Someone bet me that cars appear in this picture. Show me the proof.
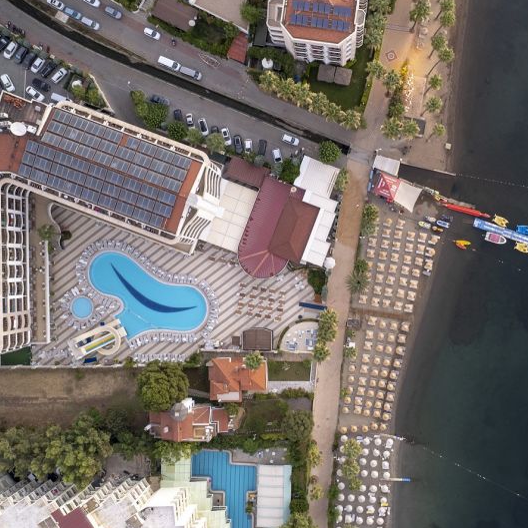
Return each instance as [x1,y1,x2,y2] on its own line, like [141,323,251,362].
[244,137,253,154]
[102,4,124,20]
[40,59,58,79]
[48,89,70,102]
[52,66,68,84]
[172,105,183,123]
[271,146,282,164]
[279,133,302,146]
[0,73,16,91]
[78,14,101,30]
[232,133,242,153]
[197,116,209,138]
[257,137,267,157]
[31,57,46,74]
[210,120,220,138]
[221,125,231,145]
[62,5,82,20]
[4,41,20,59]
[183,109,195,129]
[0,34,12,53]
[30,76,51,93]
[84,0,101,7]
[156,55,179,70]
[178,64,200,80]
[22,51,38,68]
[142,26,161,40]
[25,84,44,102]
[14,45,30,64]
